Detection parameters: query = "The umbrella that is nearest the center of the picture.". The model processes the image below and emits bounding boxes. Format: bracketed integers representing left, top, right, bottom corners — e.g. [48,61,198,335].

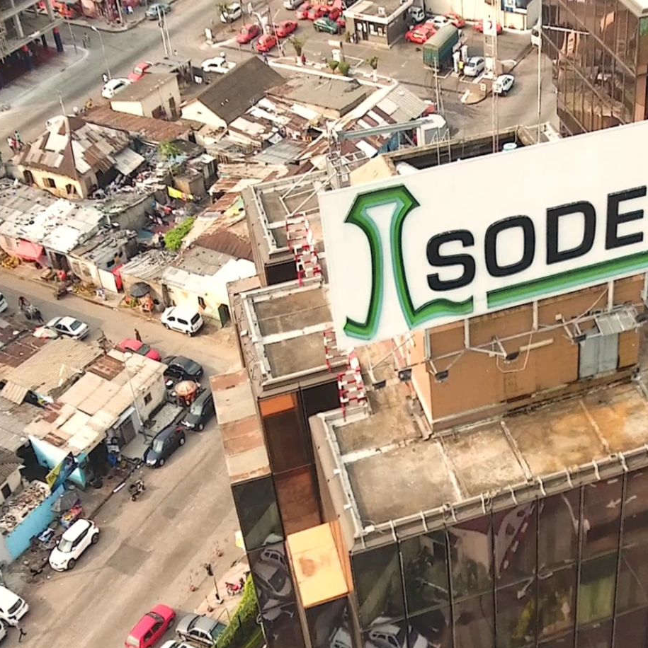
[172,382,199,402]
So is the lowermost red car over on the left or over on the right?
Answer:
left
